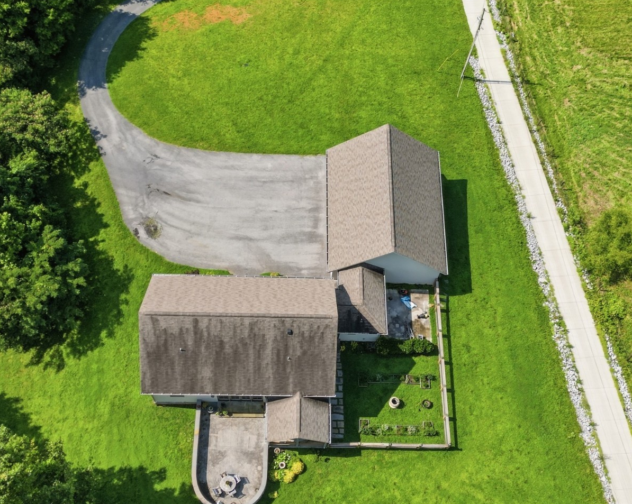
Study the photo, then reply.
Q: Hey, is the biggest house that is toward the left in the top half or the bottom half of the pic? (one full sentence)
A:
The biggest house that is toward the left is in the bottom half of the image.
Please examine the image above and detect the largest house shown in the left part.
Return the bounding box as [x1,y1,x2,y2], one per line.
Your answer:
[137,273,338,419]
